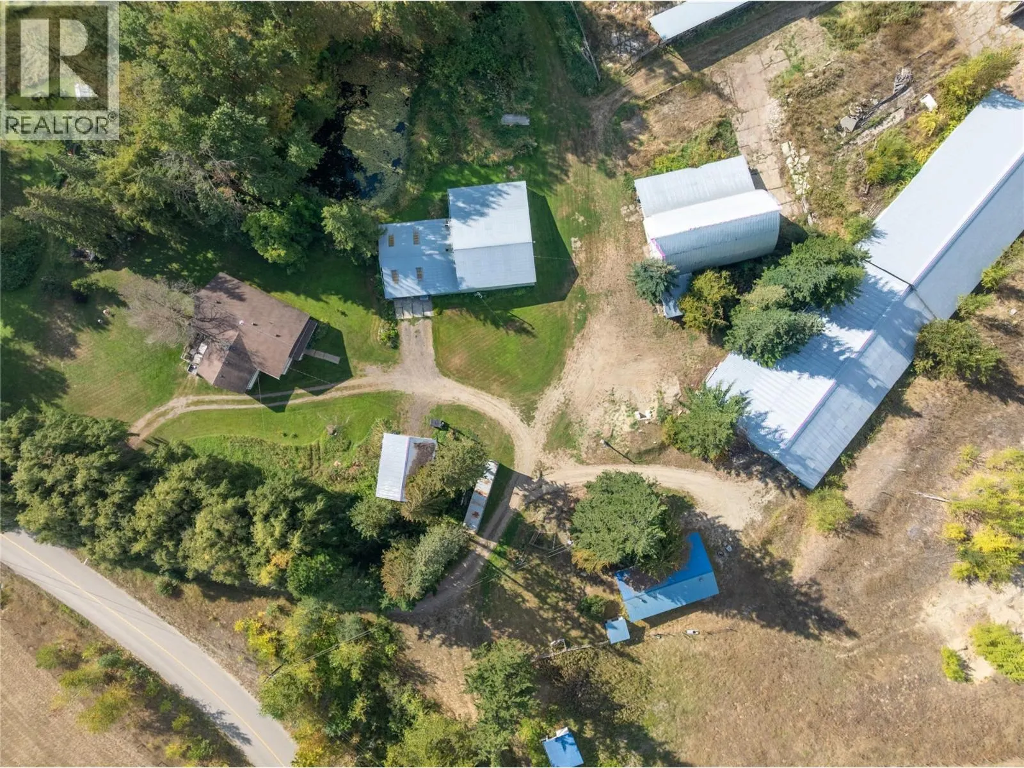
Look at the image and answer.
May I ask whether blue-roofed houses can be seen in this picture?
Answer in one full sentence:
Yes, you can see a blue-roofed house in this photo.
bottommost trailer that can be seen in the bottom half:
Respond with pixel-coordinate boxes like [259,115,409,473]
[467,459,500,532]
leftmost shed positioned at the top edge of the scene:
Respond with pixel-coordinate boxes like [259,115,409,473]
[650,0,764,47]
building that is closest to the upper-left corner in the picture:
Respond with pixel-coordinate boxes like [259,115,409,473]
[192,272,322,394]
